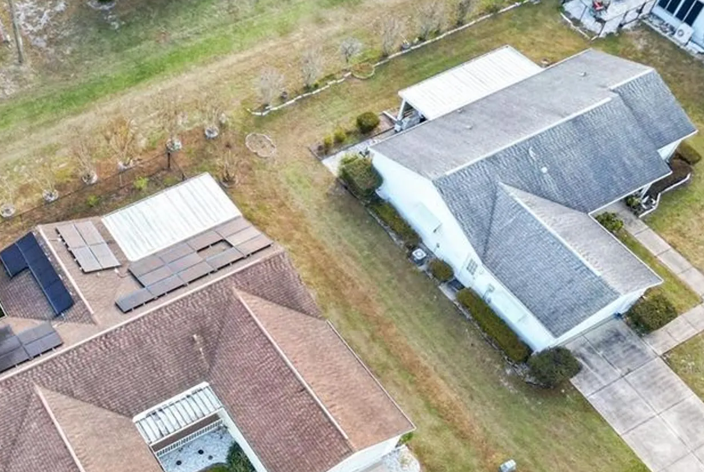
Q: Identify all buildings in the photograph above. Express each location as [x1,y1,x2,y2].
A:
[372,46,700,350]
[657,0,704,47]
[0,174,414,472]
